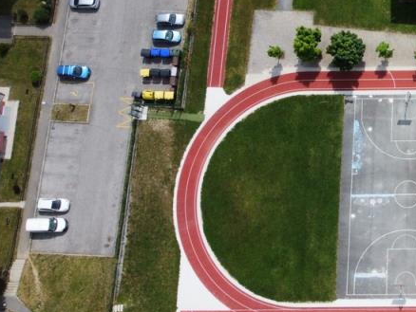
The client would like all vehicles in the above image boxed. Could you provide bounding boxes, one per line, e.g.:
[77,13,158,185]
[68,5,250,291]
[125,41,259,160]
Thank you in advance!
[155,12,186,28]
[70,0,101,10]
[55,64,92,80]
[151,29,182,44]
[22,215,71,233]
[38,198,71,213]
